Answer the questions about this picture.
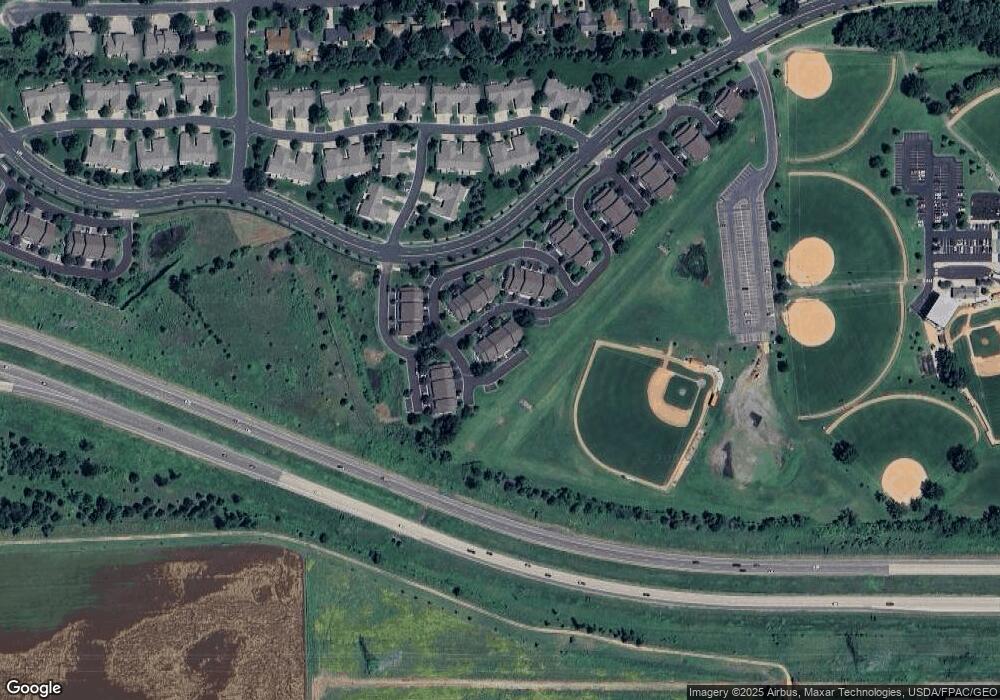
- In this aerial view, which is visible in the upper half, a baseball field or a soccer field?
baseball field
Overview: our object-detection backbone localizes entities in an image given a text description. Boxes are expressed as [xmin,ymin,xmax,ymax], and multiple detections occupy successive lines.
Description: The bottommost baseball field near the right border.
[824,394,984,510]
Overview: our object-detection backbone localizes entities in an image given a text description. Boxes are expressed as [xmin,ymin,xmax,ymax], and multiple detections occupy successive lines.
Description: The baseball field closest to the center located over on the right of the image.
[573,338,724,490]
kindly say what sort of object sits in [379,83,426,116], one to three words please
house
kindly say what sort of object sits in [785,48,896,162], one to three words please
baseball field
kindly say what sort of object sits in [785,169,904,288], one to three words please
baseball field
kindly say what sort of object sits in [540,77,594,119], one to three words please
house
